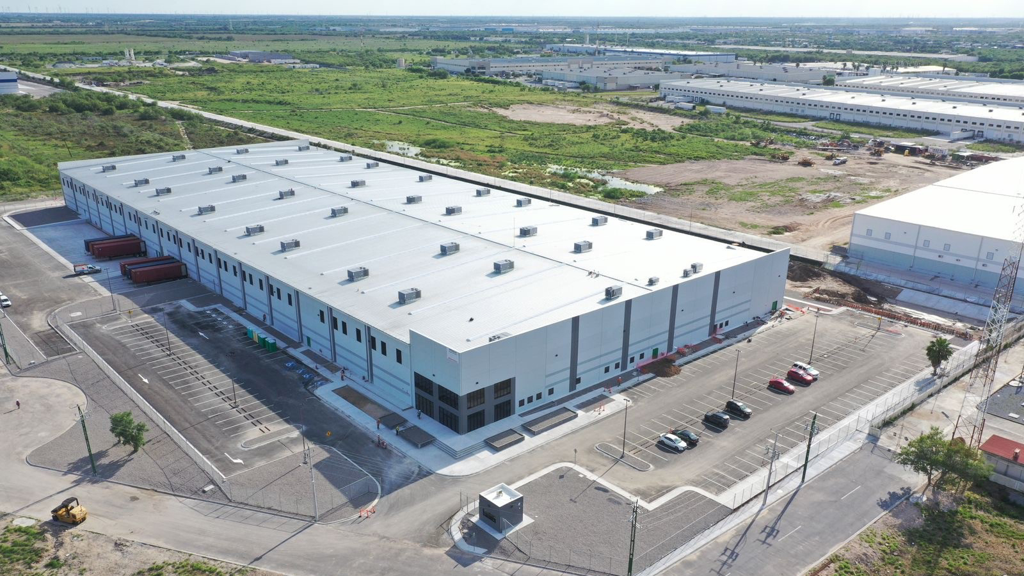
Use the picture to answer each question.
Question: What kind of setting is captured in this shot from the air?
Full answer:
The picture captures an industrial area.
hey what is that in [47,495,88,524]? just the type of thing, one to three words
work vehicle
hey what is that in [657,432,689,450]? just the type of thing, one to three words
car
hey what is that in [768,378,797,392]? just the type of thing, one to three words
car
